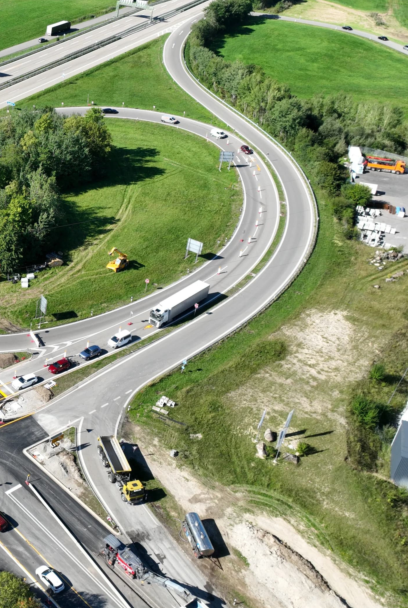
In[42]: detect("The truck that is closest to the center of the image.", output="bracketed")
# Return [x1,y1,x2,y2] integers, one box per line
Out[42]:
[154,280,219,327]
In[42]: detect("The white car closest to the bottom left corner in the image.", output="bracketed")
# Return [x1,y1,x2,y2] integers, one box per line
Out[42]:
[34,564,68,595]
